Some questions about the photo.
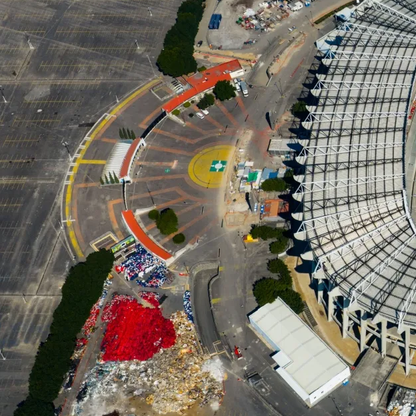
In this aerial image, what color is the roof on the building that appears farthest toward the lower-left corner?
red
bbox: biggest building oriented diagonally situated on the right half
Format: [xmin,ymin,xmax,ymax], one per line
[248,296,351,408]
